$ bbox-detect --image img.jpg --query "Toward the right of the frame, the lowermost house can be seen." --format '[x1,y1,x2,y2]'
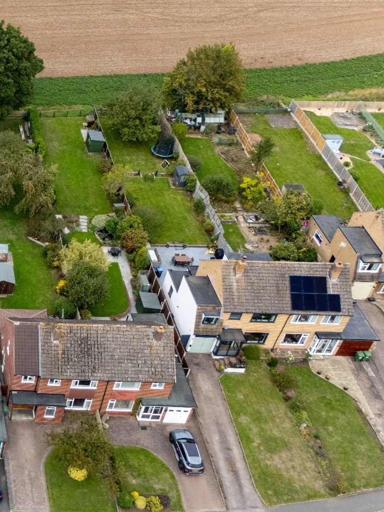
[165,253,382,356]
